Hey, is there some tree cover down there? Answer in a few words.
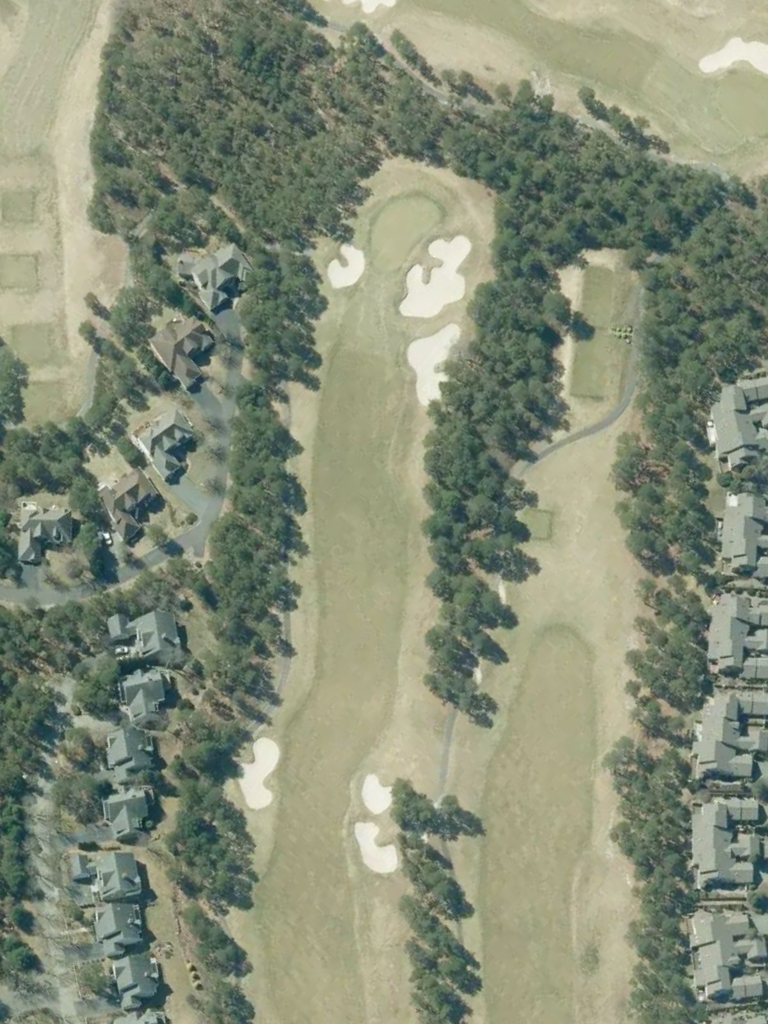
Yes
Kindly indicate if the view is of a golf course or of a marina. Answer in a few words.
golf course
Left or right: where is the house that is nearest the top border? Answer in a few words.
left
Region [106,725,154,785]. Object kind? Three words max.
house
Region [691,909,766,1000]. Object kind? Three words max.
house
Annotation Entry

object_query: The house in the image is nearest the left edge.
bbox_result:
[18,501,72,563]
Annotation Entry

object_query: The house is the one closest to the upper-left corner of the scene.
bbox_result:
[178,243,249,312]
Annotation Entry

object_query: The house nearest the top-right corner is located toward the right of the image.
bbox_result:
[707,377,768,466]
